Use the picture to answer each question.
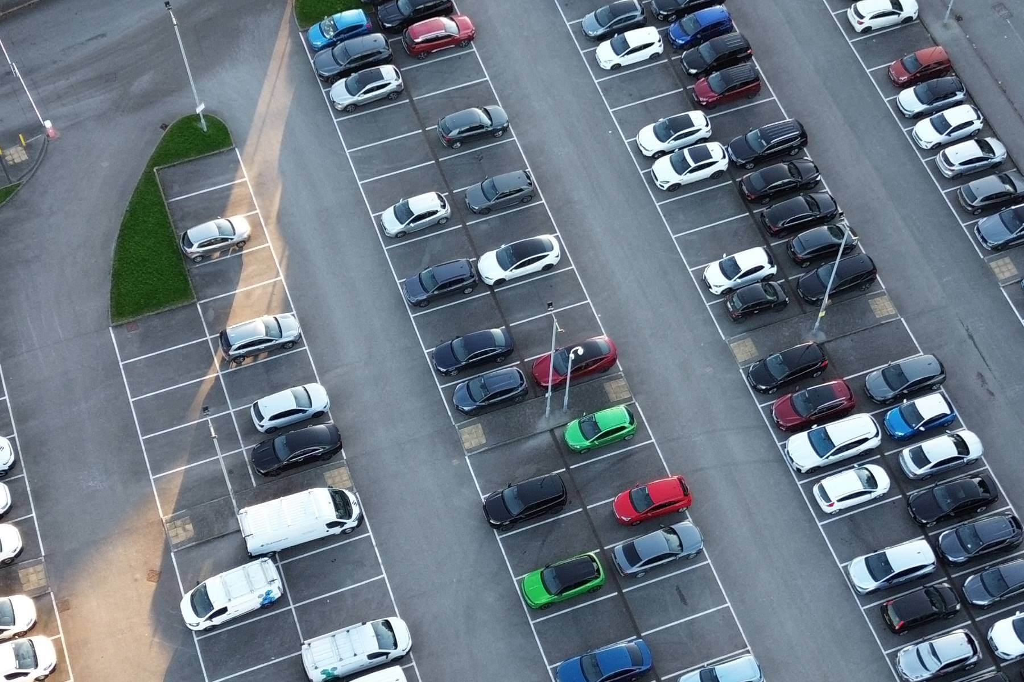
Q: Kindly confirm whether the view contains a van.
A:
Yes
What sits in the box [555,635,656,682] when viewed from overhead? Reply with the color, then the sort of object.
blue car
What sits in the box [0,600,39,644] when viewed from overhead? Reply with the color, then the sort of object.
white car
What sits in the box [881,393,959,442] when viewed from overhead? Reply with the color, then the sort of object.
blue car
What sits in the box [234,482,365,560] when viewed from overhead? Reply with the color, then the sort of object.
white van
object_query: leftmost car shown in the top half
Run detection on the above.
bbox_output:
[178,216,252,261]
